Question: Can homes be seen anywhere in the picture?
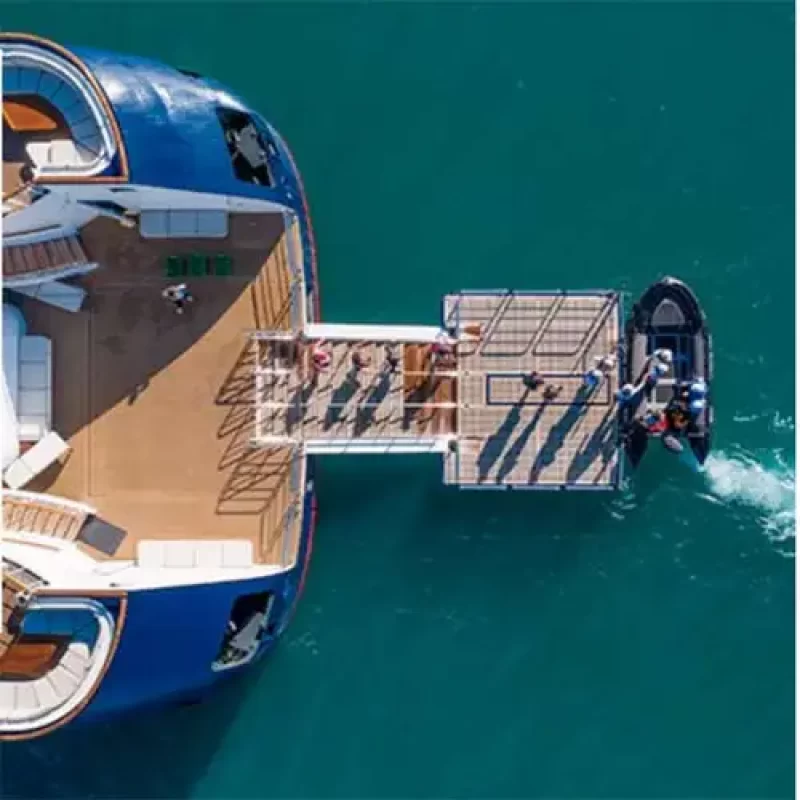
No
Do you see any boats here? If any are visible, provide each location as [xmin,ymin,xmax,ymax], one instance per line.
[0,36,322,740]
[629,275,712,467]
